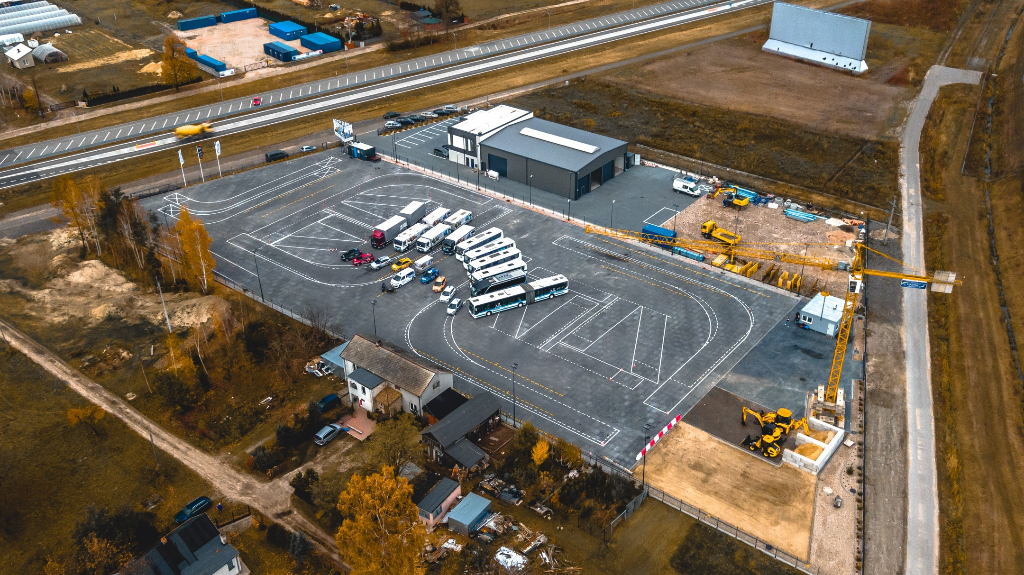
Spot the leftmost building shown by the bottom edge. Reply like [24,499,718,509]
[103,511,236,575]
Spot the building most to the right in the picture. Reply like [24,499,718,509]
[801,297,847,340]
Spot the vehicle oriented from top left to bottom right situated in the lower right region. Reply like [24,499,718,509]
[741,405,787,444]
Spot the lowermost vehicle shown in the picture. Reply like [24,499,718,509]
[169,490,212,521]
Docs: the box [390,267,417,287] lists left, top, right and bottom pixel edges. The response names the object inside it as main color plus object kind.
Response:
white vehicle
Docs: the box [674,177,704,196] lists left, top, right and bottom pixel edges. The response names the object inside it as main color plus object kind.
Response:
white vehicle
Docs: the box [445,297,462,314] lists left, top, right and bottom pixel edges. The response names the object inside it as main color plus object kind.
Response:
white car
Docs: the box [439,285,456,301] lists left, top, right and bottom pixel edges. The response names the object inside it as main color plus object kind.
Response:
white car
